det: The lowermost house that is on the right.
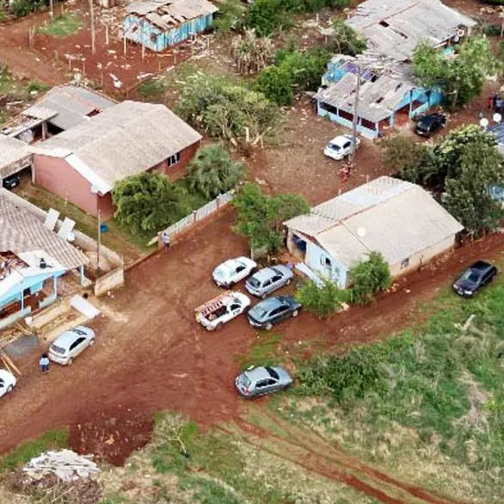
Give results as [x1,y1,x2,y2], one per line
[288,182,459,291]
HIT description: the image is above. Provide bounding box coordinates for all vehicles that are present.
[321,129,365,159]
[4,169,30,192]
[451,257,504,297]
[208,253,263,288]
[192,288,254,328]
[243,263,298,298]
[242,294,308,330]
[42,324,102,366]
[230,362,297,399]
[0,367,20,395]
